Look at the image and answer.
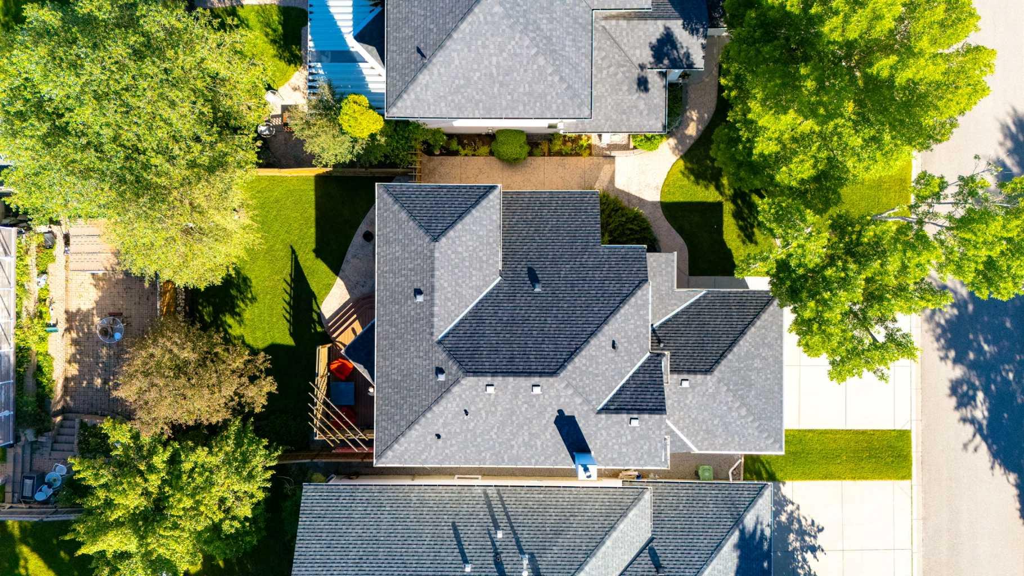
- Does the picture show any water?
No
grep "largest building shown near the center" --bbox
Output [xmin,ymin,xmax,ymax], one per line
[341,182,785,481]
